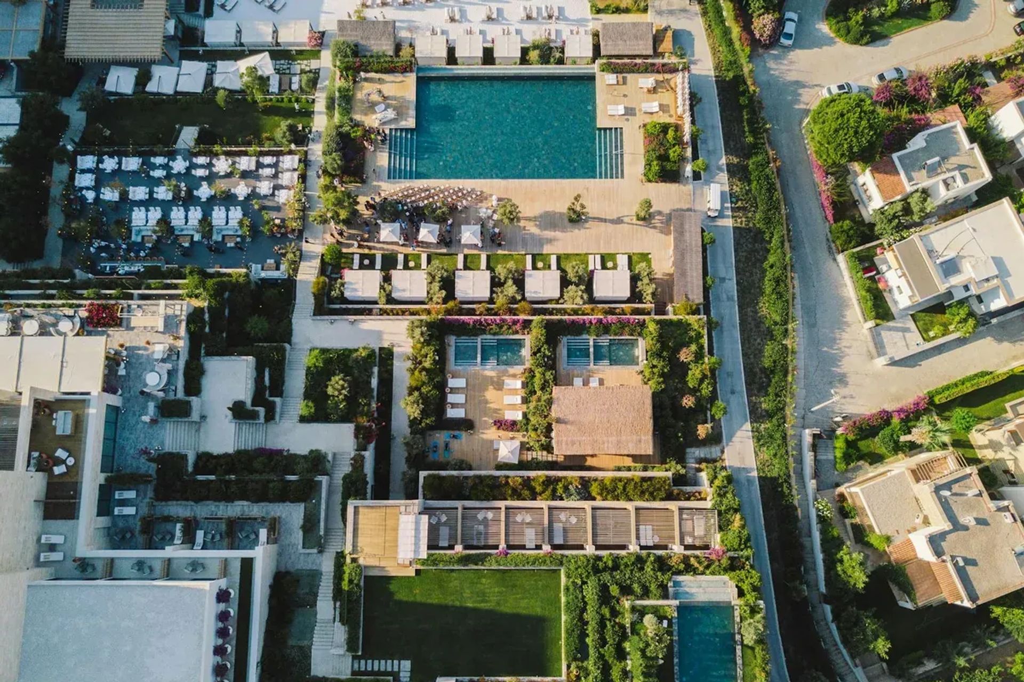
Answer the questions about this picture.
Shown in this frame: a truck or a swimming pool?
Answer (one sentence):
Visible in the photo is a swimming pool.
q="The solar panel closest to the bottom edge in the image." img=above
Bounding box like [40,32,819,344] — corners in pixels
[938,257,963,282]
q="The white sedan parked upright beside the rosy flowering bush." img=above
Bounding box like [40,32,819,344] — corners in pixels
[778,13,796,46]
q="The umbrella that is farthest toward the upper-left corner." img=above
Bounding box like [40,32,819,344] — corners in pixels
[104,66,140,108]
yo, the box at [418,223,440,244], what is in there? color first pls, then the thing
white umbrella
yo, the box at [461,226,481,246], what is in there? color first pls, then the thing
white umbrella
